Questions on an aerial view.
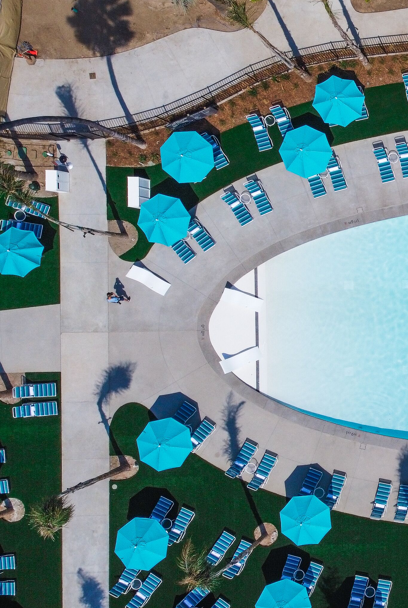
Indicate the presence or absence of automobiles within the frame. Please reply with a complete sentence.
No, there isn't any automobile down there.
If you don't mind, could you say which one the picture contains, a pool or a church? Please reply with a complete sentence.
It is a pool that can be seen here.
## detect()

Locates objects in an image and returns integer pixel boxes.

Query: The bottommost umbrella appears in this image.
[256,577,312,608]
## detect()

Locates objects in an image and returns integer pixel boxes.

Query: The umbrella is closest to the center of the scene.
[138,194,192,247]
